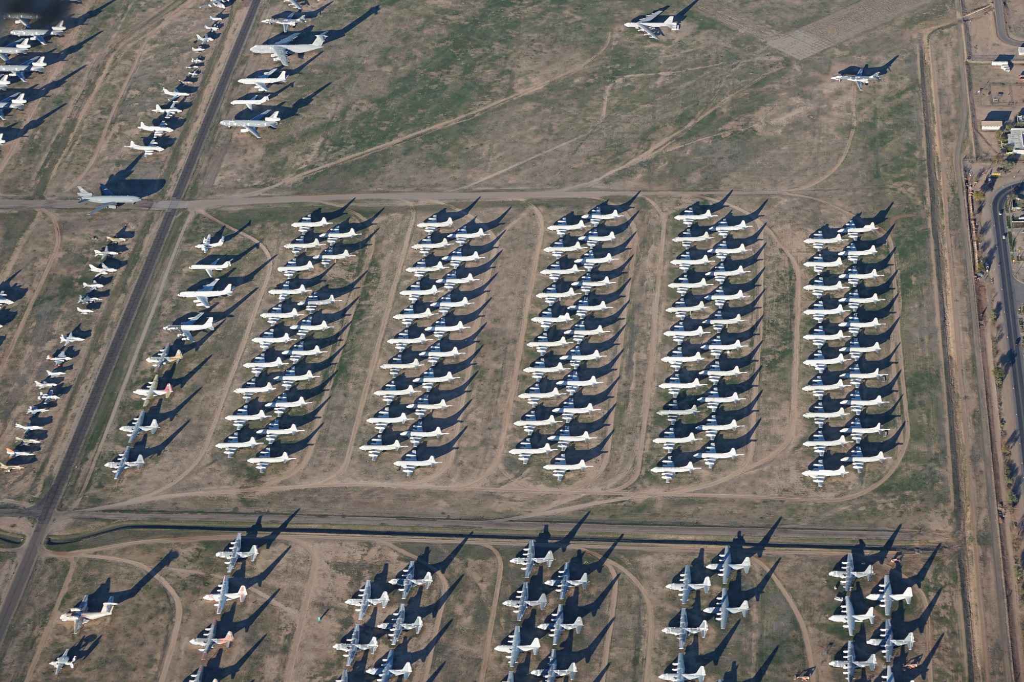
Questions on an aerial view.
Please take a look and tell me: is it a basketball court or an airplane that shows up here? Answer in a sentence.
This aerial view contains an airplane.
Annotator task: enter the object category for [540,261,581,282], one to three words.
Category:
airplane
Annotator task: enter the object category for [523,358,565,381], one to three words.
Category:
airplane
